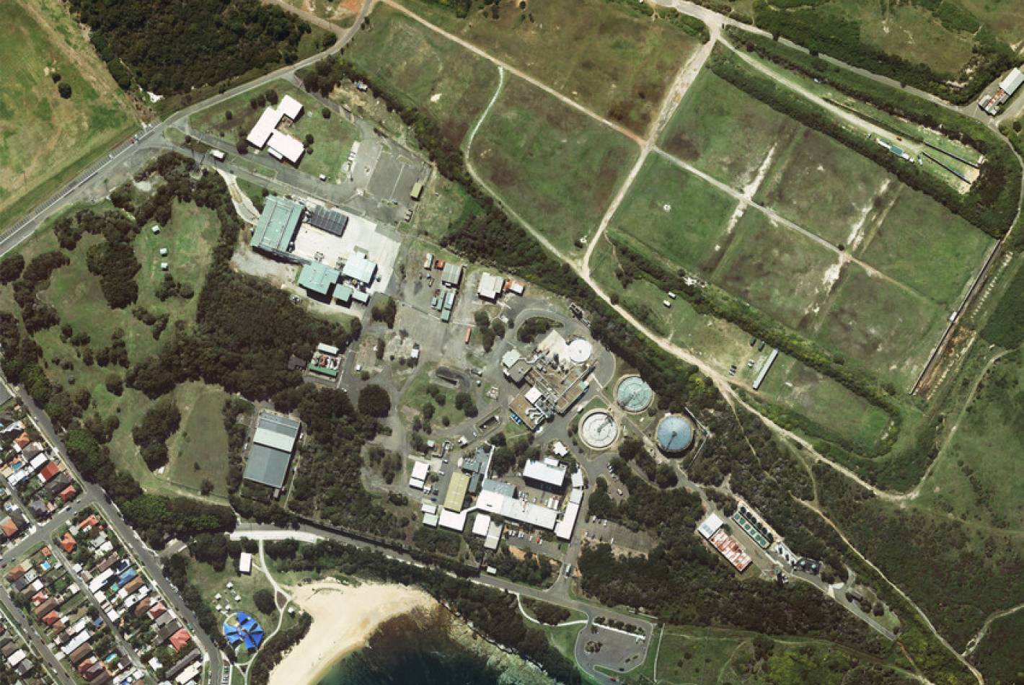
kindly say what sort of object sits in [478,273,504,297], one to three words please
building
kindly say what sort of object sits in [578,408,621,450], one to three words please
storage tank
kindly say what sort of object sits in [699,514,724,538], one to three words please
house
